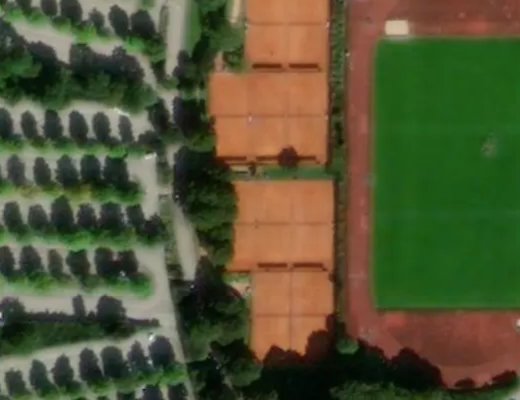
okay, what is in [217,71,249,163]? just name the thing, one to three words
tennis court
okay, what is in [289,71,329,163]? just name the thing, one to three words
tennis court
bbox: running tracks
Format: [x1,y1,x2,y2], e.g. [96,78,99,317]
[348,0,520,392]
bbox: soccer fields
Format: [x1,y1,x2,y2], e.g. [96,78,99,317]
[371,36,520,312]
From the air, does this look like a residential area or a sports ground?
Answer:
sports ground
